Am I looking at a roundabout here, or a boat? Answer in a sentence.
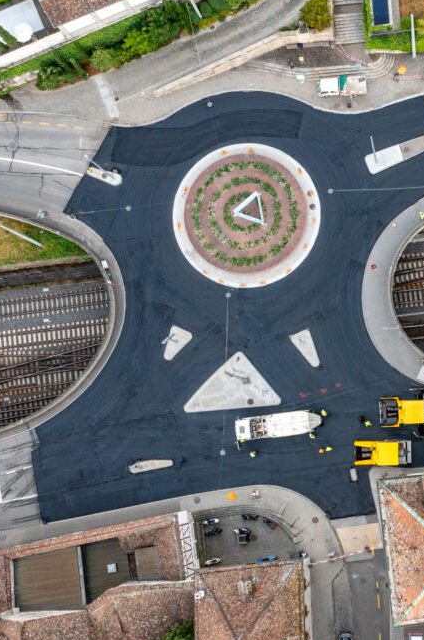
I can see a roundabout in this picture.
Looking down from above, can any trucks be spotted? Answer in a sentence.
Yes, there is a truck in the image.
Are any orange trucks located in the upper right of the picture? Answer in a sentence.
No, I see no orange truck in the upper right of the picture.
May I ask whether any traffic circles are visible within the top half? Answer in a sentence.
Yes, a traffic circle shows up within the top half.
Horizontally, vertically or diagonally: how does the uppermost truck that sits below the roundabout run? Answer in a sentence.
The uppermost truck that sits below the roundabout is laid out horizontally.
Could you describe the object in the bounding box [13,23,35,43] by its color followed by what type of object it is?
white umbrella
